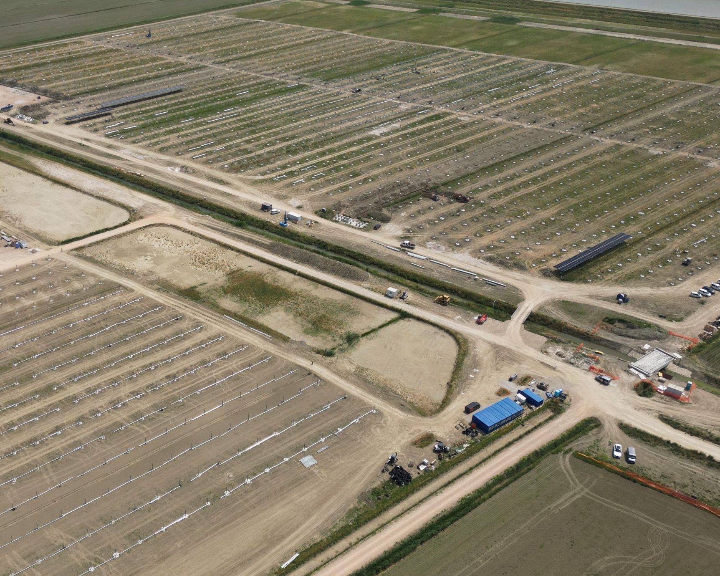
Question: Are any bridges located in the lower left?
No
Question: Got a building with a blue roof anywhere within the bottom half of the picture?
Yes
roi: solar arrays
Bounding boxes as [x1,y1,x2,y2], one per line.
[66,107,115,121]
[103,87,184,106]
[554,232,632,272]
